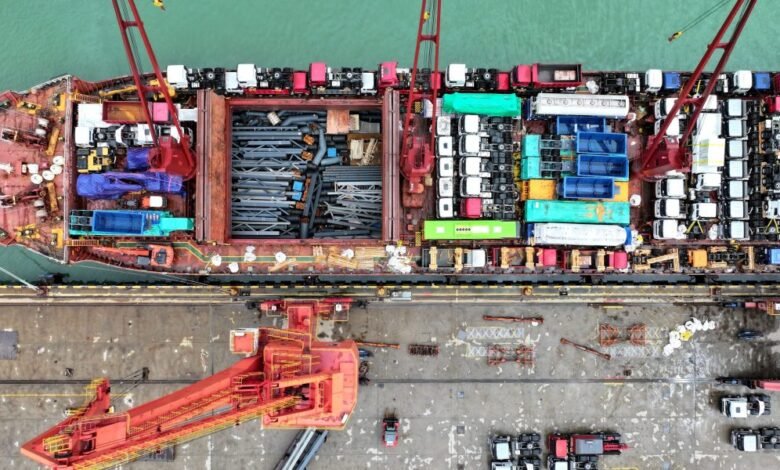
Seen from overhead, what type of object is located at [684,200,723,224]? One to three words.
truck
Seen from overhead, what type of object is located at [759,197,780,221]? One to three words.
truck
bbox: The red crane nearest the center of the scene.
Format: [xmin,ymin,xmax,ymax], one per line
[400,0,441,195]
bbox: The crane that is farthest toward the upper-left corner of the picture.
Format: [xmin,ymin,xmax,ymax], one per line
[108,0,197,194]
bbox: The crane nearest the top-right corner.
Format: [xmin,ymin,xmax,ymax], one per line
[633,0,762,198]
